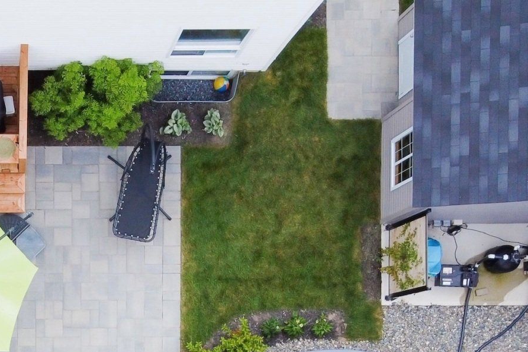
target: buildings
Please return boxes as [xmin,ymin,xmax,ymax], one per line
[383,0,528,223]
[0,0,329,82]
